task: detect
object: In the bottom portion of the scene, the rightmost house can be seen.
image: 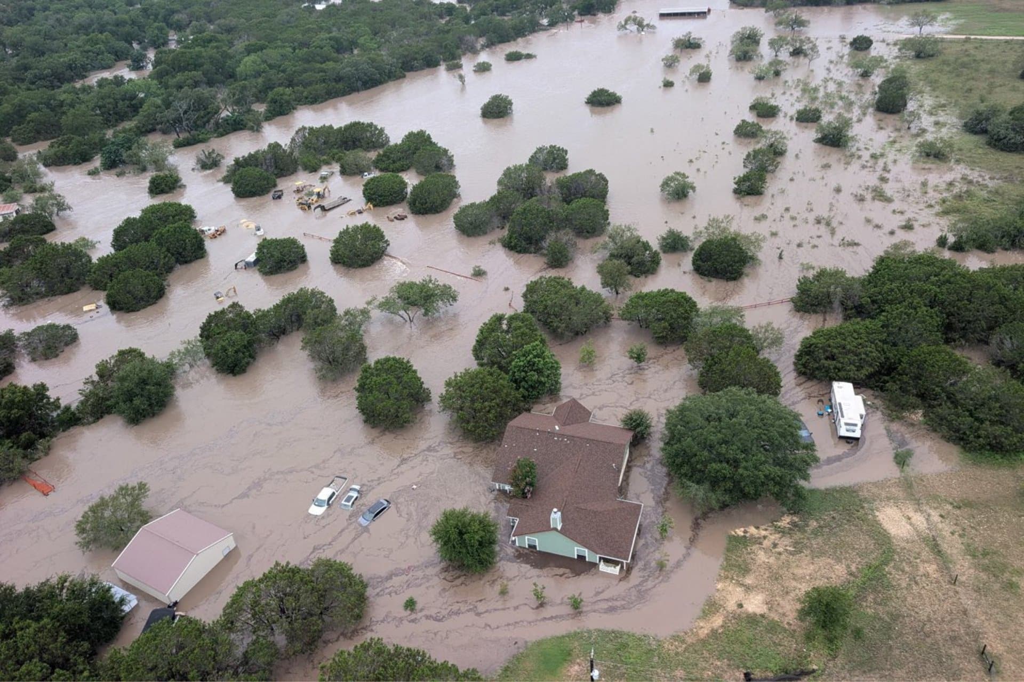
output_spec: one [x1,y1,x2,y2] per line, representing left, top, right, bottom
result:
[491,398,643,575]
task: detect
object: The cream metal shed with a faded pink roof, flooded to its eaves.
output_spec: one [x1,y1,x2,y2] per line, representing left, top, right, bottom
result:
[111,508,234,602]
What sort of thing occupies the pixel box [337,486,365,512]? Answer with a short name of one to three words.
car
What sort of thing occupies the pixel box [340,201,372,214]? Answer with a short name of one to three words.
vehicle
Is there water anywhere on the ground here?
Yes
